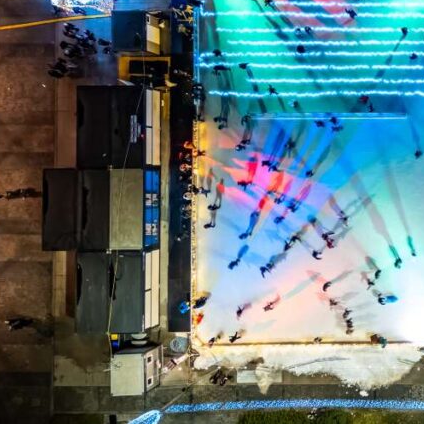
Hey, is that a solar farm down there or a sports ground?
sports ground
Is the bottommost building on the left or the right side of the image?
left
